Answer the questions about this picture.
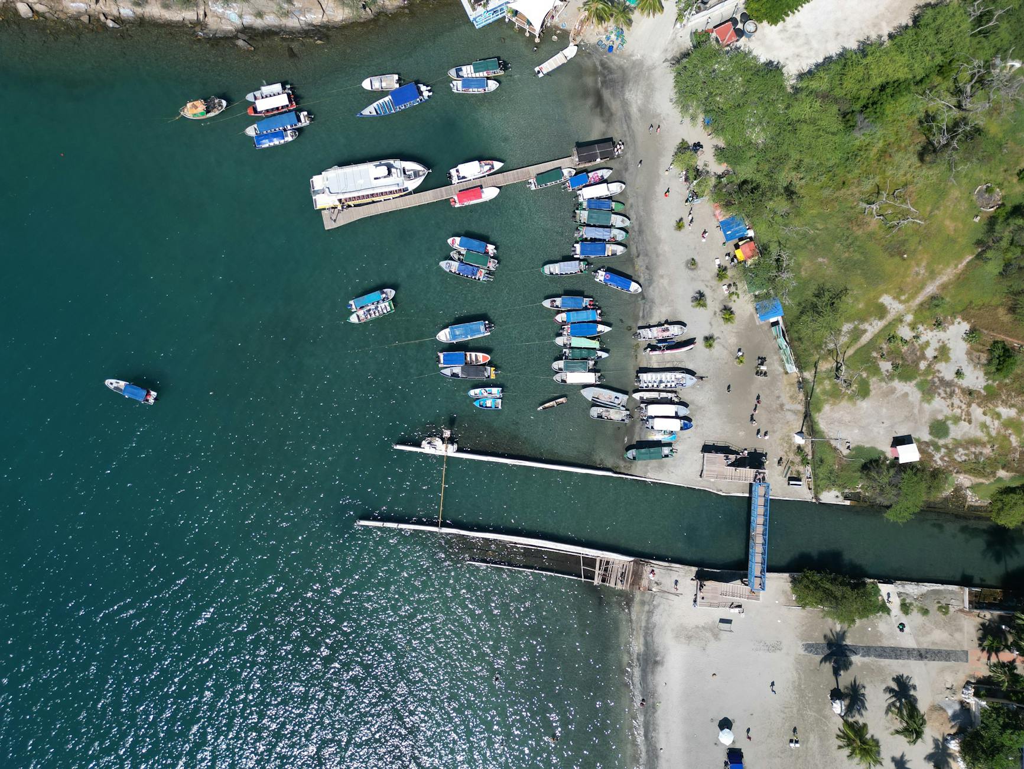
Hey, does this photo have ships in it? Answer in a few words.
Yes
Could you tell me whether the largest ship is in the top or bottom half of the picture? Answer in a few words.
top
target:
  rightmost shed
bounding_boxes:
[890,443,919,463]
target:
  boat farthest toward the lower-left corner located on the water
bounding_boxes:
[105,380,160,404]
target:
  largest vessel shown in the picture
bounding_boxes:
[311,158,433,210]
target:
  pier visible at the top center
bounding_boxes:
[322,150,610,230]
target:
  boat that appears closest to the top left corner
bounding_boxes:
[179,98,228,115]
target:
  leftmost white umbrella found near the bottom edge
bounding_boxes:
[716,726,732,742]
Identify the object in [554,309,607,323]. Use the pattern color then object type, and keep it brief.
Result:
blue boat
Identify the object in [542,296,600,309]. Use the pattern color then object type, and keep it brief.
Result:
blue boat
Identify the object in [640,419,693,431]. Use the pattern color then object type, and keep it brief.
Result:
white boat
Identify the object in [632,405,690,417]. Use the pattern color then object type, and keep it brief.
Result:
white boat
